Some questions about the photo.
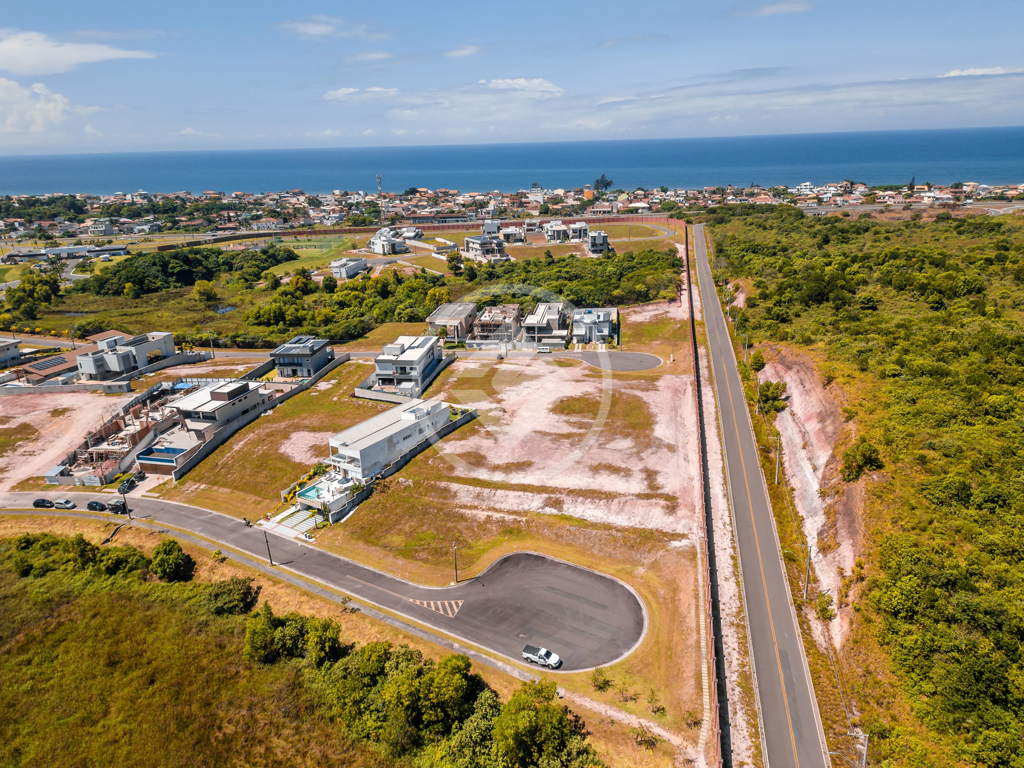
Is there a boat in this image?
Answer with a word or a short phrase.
No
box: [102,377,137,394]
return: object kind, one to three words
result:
shed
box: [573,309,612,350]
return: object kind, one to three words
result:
house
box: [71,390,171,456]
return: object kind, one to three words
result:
house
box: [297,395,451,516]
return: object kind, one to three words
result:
building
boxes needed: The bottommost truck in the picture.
[522,643,563,668]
